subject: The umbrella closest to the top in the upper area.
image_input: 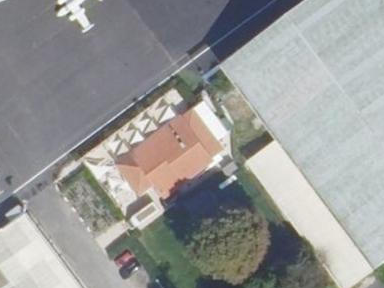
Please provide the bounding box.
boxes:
[162,86,183,108]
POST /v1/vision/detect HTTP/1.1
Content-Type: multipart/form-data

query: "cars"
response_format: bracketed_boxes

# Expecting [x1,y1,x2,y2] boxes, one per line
[114,252,134,267]
[119,261,140,277]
